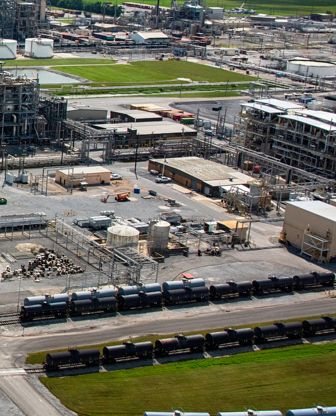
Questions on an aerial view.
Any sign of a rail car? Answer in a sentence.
Yes, the image includes a rail car.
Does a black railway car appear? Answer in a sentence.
Yes, the frame does contain a black railway car.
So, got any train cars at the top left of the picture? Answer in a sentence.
No, the scene shows no train car at the top left of the picture.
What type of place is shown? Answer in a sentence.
The picture captures an industrial area.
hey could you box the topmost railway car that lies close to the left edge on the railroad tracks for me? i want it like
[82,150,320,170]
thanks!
[16,293,71,320]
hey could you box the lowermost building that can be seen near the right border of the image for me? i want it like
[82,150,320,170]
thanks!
[280,199,336,266]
